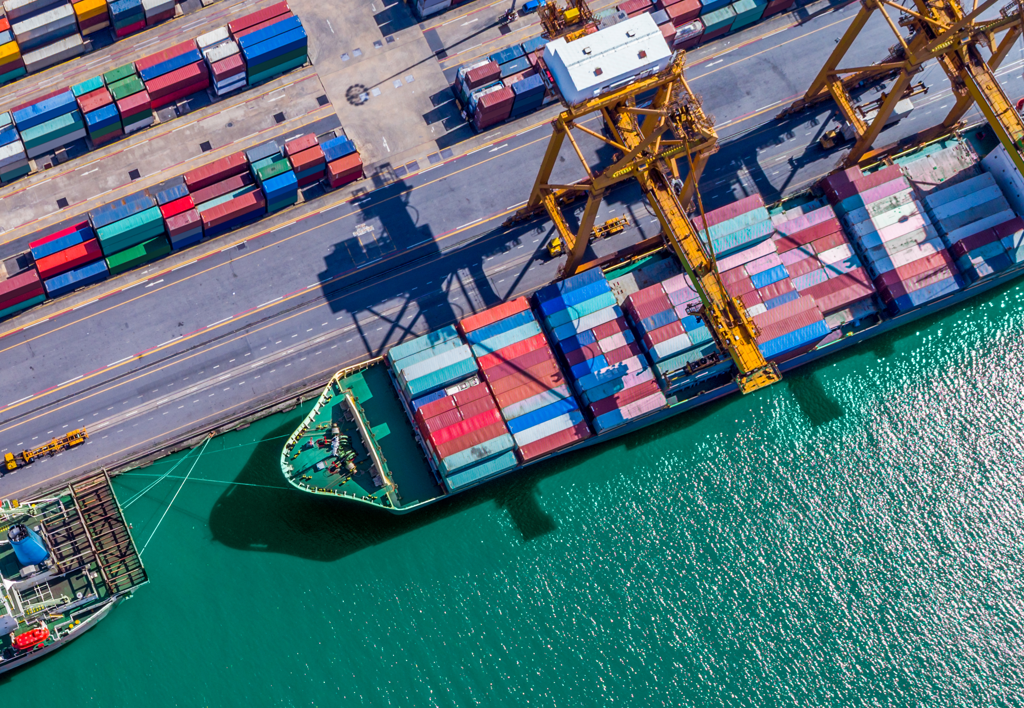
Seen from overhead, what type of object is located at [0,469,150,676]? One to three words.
ship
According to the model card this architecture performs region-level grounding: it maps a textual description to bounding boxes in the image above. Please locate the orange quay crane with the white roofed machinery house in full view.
[508,0,778,397]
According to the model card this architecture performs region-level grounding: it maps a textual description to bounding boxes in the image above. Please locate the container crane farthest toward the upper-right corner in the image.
[784,0,1024,184]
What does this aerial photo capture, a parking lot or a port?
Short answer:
port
